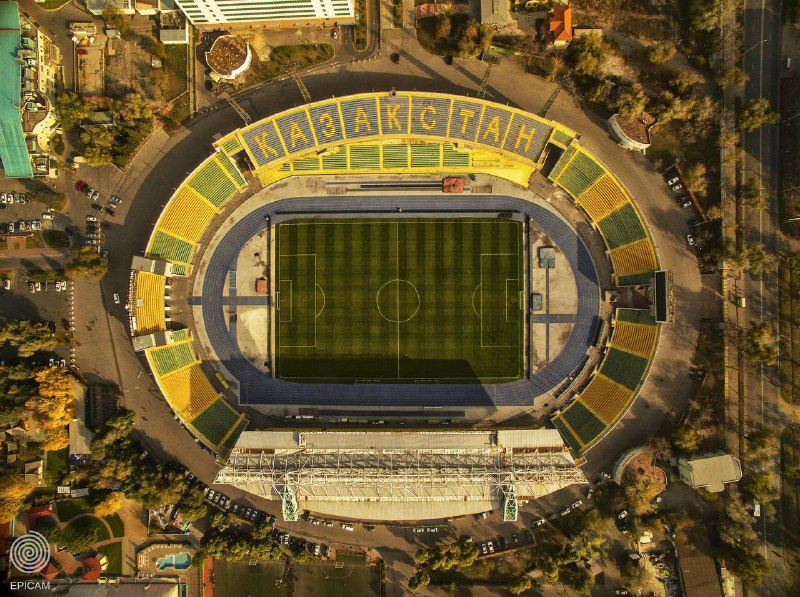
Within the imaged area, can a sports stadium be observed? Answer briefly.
Yes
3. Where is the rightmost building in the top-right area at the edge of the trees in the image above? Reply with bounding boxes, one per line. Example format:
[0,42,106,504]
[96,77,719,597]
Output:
[610,112,655,154]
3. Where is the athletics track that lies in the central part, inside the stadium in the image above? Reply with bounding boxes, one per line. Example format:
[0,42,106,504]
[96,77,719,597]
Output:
[202,196,597,405]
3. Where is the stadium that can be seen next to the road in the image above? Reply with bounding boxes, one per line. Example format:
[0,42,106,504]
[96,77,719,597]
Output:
[123,87,665,522]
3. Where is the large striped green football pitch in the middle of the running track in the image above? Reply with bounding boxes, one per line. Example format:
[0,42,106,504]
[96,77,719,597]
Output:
[275,217,524,383]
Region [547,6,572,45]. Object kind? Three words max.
house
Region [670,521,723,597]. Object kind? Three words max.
building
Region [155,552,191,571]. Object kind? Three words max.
swimming pool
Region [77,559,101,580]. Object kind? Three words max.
tent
